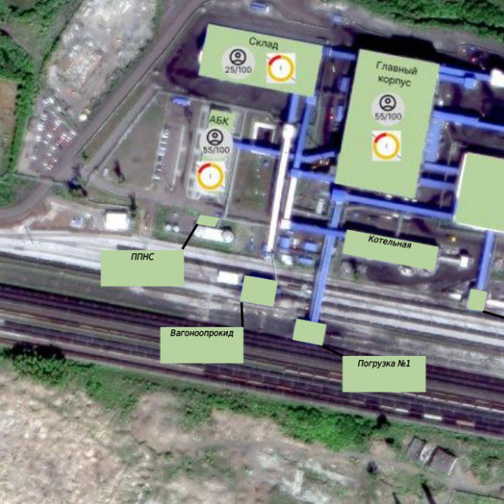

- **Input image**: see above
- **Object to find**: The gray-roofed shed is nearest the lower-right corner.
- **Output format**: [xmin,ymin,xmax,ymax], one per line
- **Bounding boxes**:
[427,446,456,474]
